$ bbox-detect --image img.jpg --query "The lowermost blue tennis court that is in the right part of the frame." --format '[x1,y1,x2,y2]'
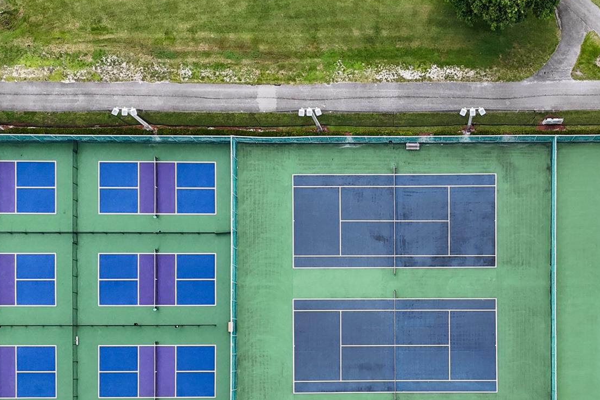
[293,299,497,393]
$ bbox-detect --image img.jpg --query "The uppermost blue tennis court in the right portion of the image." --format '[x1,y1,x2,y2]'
[293,174,496,268]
